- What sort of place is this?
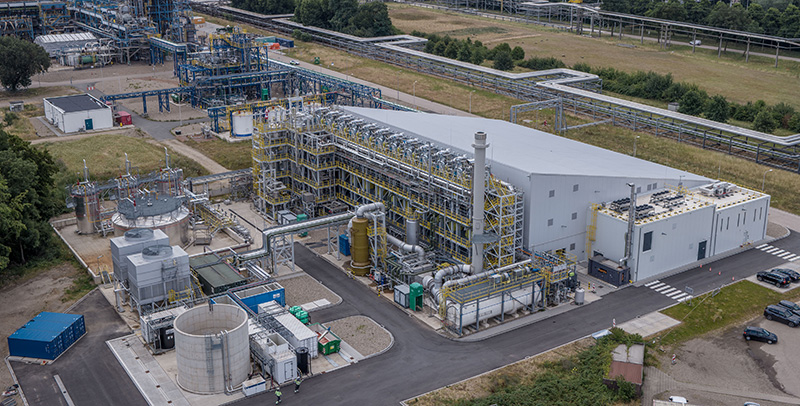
industrial area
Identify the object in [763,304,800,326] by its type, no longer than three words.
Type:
car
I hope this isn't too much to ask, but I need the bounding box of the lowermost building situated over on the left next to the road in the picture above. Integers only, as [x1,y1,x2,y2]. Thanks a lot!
[252,338,295,383]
